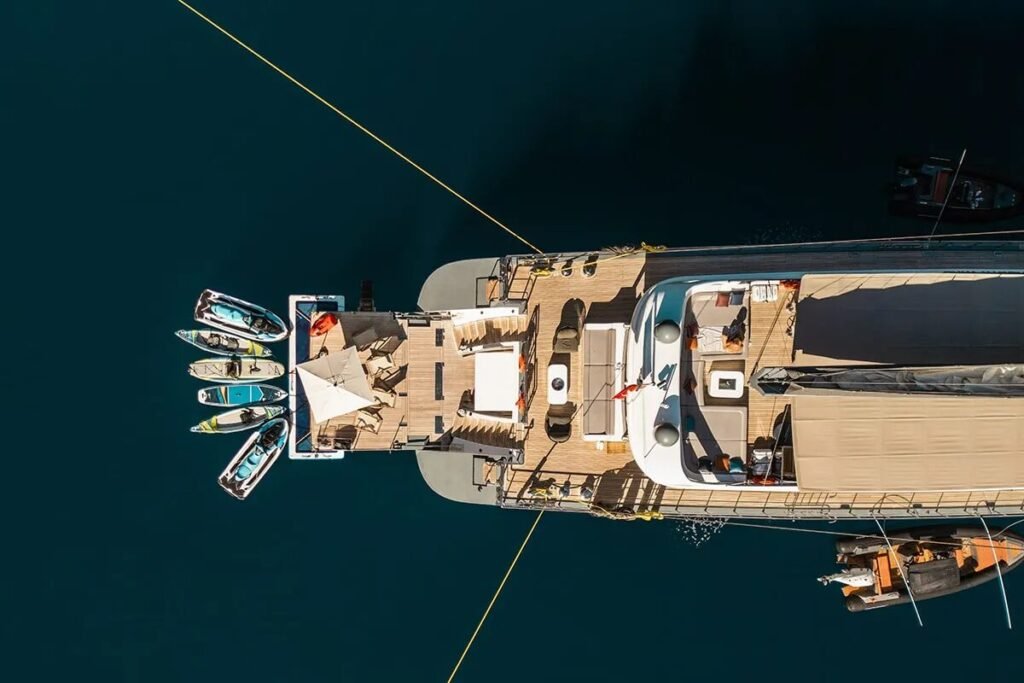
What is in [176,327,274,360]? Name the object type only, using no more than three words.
boat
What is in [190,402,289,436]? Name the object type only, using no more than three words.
boat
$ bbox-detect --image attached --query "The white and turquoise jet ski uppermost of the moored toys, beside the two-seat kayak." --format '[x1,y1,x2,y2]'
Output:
[195,286,284,343]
